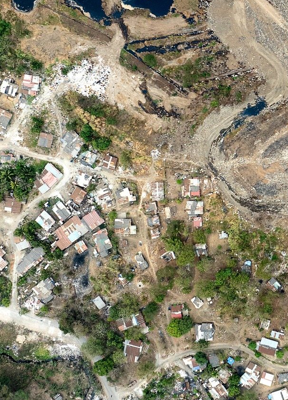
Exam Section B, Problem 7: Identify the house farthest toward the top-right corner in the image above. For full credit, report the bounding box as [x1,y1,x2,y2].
[175,177,202,198]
